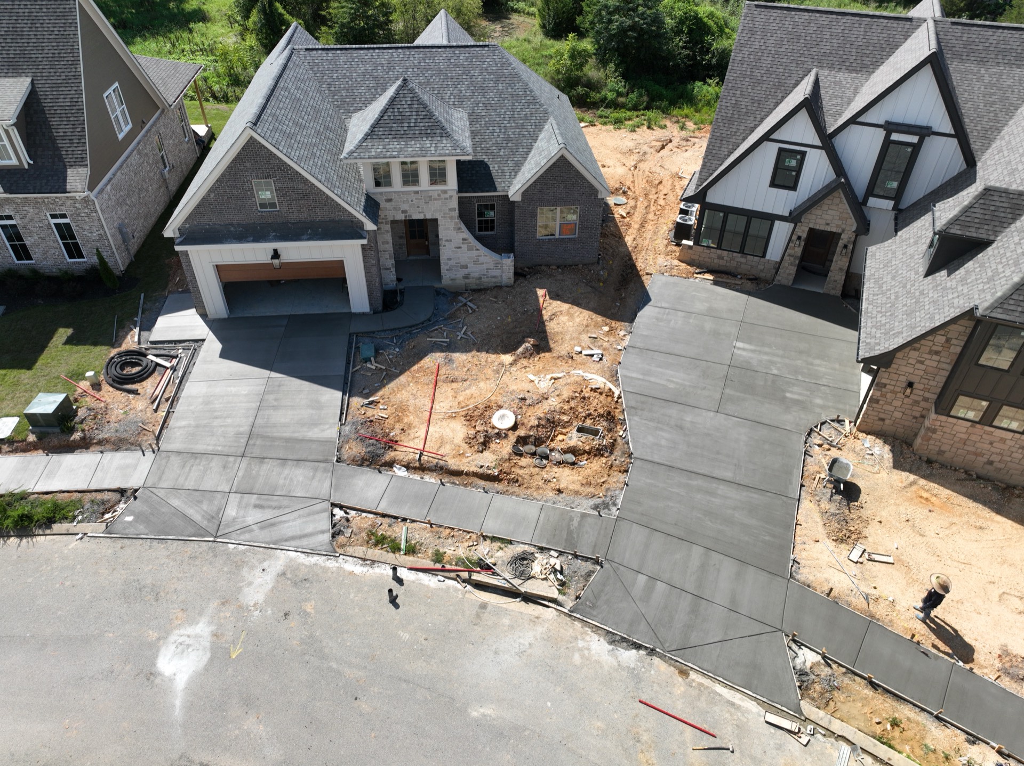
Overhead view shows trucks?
No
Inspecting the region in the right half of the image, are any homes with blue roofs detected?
No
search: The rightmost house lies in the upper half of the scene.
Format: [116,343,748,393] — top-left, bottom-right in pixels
[670,0,1024,486]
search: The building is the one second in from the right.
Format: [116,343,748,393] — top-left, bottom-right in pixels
[162,7,612,321]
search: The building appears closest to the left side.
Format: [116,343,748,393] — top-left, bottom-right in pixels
[0,0,218,280]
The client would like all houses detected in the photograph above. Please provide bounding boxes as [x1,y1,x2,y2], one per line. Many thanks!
[0,0,218,280]
[670,0,1024,486]
[162,7,612,321]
